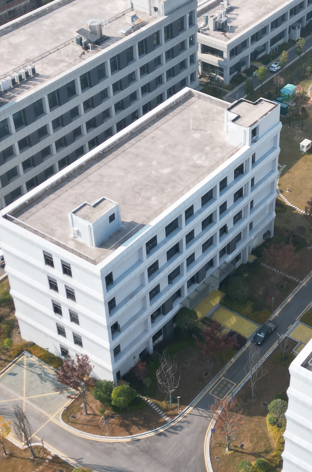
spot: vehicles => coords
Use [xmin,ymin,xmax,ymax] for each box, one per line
[268,62,287,74]
[252,317,281,346]
[0,251,8,270]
